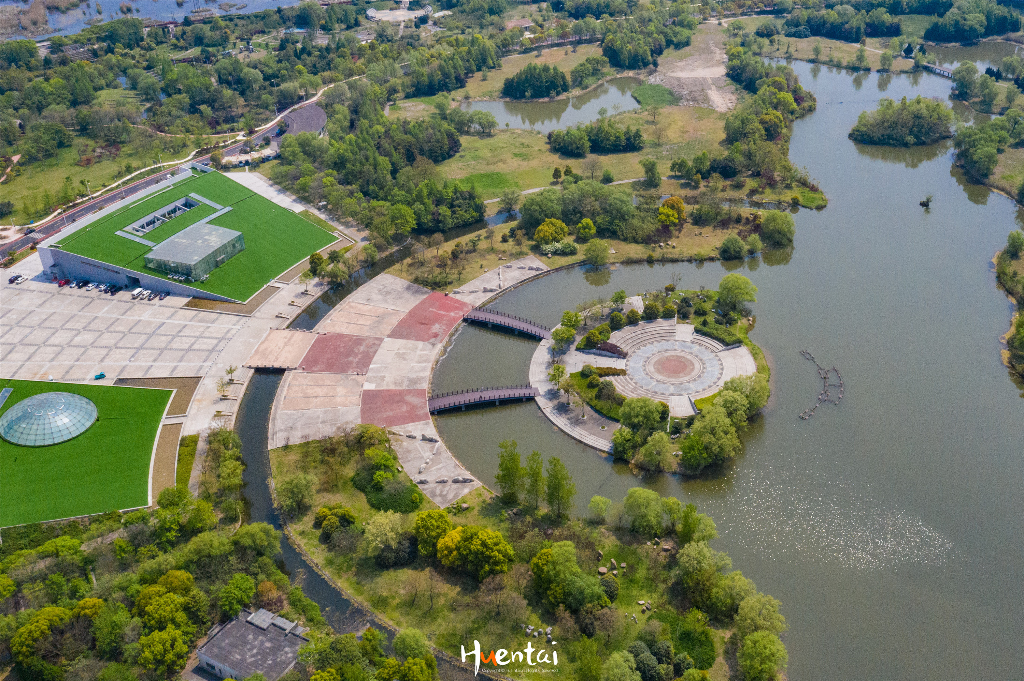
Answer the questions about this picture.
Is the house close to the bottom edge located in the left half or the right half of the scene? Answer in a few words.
left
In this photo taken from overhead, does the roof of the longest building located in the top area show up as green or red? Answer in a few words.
green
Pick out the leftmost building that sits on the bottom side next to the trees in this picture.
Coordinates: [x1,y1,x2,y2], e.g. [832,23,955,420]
[0,378,179,533]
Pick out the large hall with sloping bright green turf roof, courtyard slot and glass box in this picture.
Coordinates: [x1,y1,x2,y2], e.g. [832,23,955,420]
[24,159,345,306]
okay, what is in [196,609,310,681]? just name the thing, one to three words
house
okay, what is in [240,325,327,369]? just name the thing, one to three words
bridge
